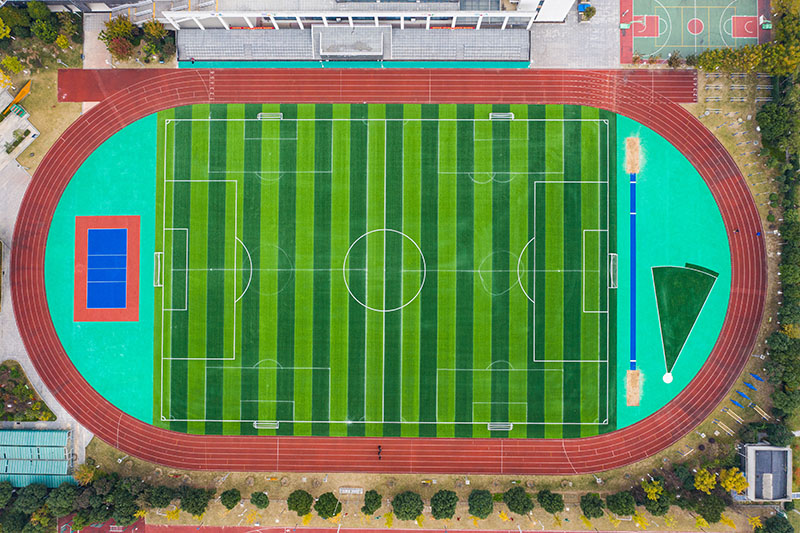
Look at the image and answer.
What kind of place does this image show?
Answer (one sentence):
It's a sports ground.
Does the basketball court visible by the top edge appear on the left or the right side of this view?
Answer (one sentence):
The basketball court visible by the top edge sits on the right side.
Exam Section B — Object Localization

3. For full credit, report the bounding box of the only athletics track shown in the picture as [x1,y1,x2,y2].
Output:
[8,69,769,477]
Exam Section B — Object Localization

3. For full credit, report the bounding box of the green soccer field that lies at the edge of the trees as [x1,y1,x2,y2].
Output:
[152,105,617,439]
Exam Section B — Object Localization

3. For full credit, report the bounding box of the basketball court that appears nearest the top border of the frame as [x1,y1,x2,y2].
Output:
[620,0,771,63]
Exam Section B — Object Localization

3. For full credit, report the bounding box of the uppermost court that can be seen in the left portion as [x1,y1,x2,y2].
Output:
[74,216,140,322]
